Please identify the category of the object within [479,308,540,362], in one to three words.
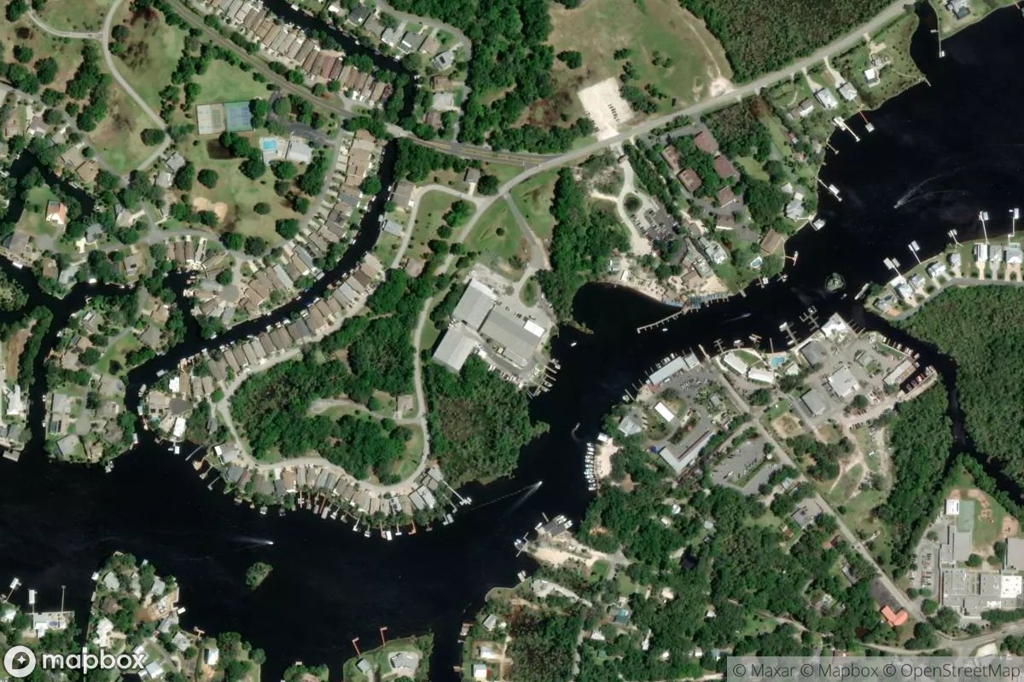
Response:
shed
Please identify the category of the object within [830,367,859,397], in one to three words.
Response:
building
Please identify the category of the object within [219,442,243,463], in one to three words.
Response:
house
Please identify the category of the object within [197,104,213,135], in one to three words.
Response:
sports court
